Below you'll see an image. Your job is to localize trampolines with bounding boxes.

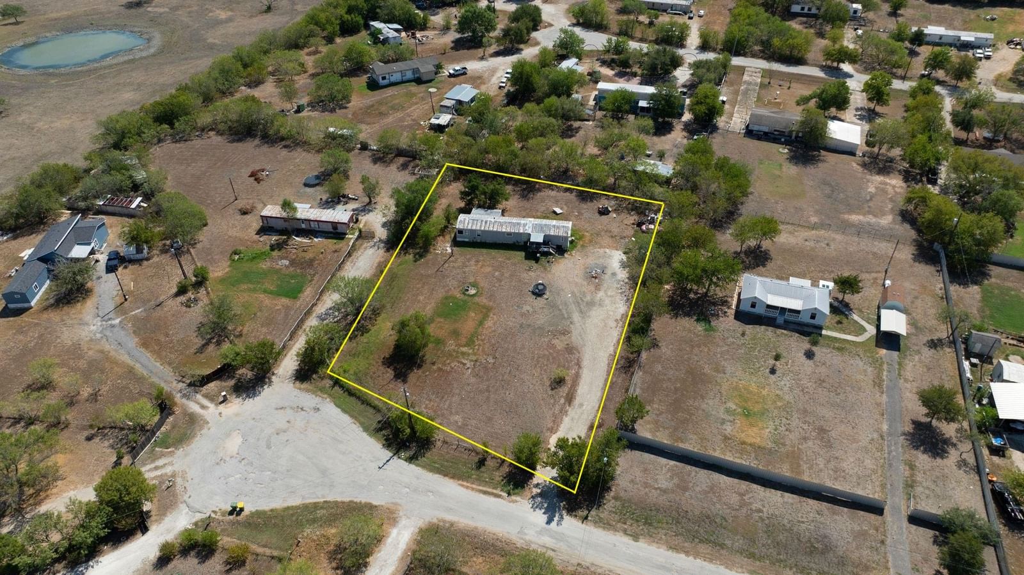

[302,174,322,189]
[532,282,547,296]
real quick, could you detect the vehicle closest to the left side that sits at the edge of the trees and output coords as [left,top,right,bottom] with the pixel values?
[102,246,120,269]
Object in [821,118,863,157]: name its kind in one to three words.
barn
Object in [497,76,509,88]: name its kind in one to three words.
vehicle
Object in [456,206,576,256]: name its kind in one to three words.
house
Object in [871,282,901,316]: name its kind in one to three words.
building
